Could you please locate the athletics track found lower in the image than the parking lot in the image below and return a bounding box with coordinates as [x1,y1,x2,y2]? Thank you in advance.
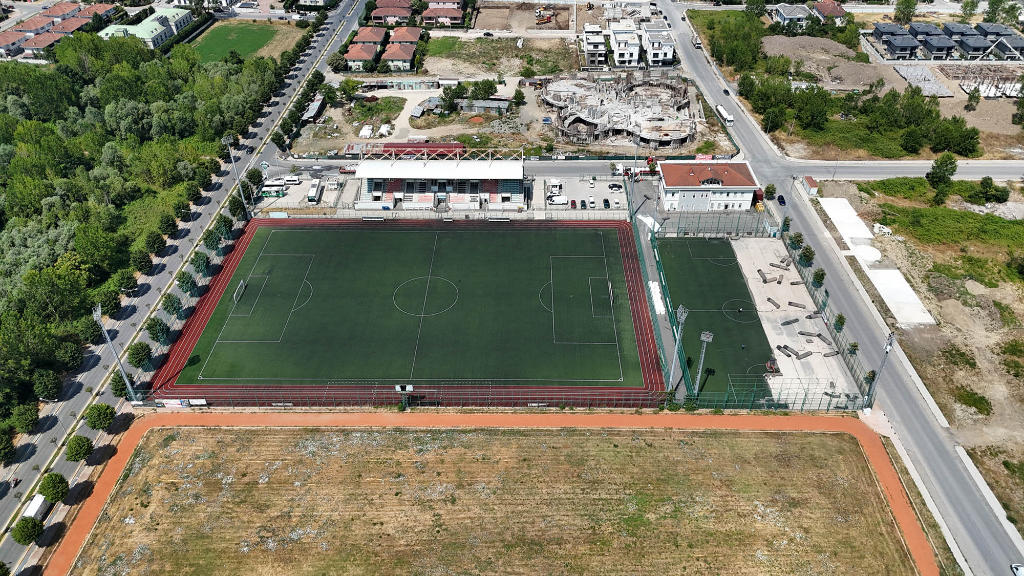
[145,218,667,409]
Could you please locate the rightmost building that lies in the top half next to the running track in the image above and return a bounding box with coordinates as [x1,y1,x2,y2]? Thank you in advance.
[653,156,762,210]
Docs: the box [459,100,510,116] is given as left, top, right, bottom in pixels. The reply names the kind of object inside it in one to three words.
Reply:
shed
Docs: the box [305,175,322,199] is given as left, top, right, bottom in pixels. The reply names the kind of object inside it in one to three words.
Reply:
vehicle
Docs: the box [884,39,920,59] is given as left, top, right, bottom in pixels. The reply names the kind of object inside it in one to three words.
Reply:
house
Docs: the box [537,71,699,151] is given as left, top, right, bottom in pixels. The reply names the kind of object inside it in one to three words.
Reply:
building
